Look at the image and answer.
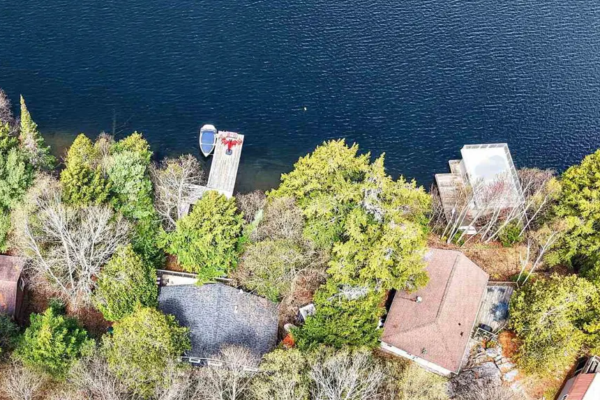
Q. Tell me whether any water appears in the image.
Yes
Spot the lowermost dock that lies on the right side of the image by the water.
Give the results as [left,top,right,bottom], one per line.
[433,174,475,223]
